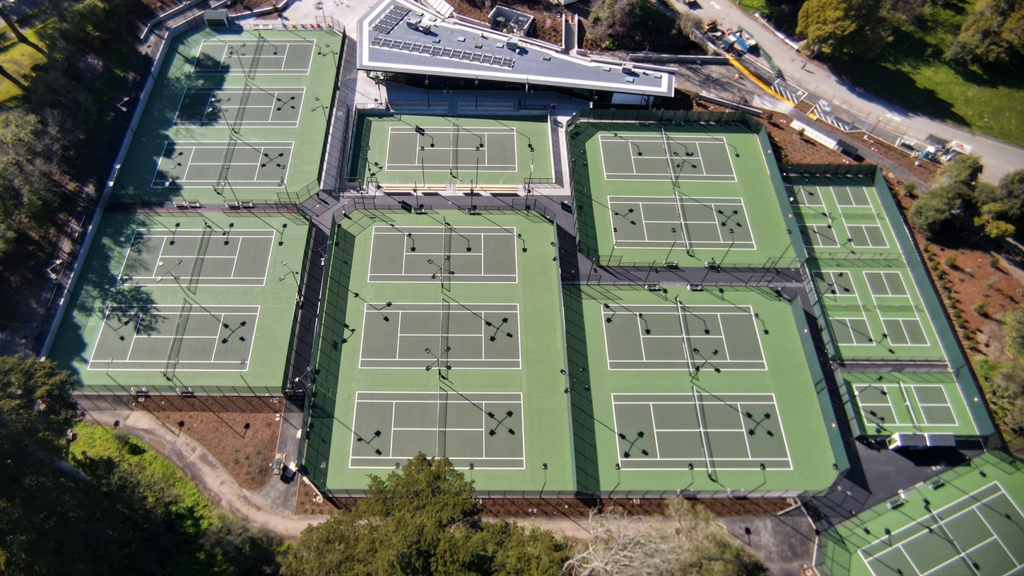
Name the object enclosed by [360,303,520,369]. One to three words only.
tennis court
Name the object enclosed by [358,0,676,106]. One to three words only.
building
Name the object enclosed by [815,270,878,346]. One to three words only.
sports court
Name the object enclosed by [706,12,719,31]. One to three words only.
vehicle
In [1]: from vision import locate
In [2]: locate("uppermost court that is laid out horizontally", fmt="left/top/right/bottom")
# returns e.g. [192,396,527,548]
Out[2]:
[191,38,316,75]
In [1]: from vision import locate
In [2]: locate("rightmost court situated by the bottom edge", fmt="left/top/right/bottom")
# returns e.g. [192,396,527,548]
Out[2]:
[857,480,1024,576]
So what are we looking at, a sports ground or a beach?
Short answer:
sports ground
